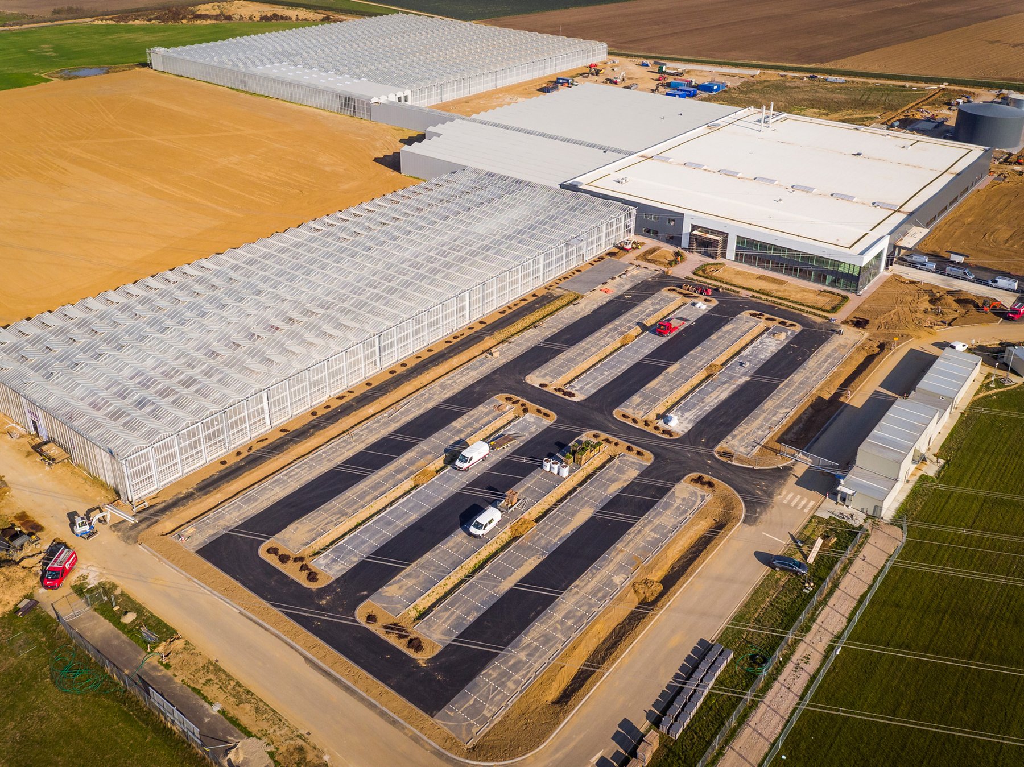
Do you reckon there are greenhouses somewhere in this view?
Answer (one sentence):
Yes, looking at the shot, I can spot a greenhouse.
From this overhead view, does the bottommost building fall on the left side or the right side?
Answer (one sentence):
You can find the bottommost building on the right side of the picture.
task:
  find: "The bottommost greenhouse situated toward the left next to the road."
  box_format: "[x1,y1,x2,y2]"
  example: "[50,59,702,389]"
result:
[0,164,638,503]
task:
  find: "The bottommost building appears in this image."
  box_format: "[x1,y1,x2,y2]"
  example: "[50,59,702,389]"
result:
[831,465,897,517]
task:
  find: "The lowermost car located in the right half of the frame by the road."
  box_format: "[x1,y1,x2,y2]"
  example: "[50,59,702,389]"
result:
[765,553,806,576]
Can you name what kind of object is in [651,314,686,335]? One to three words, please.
truck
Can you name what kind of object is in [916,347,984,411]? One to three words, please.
building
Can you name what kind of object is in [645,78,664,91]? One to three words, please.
vehicle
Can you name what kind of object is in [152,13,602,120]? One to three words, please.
greenhouse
